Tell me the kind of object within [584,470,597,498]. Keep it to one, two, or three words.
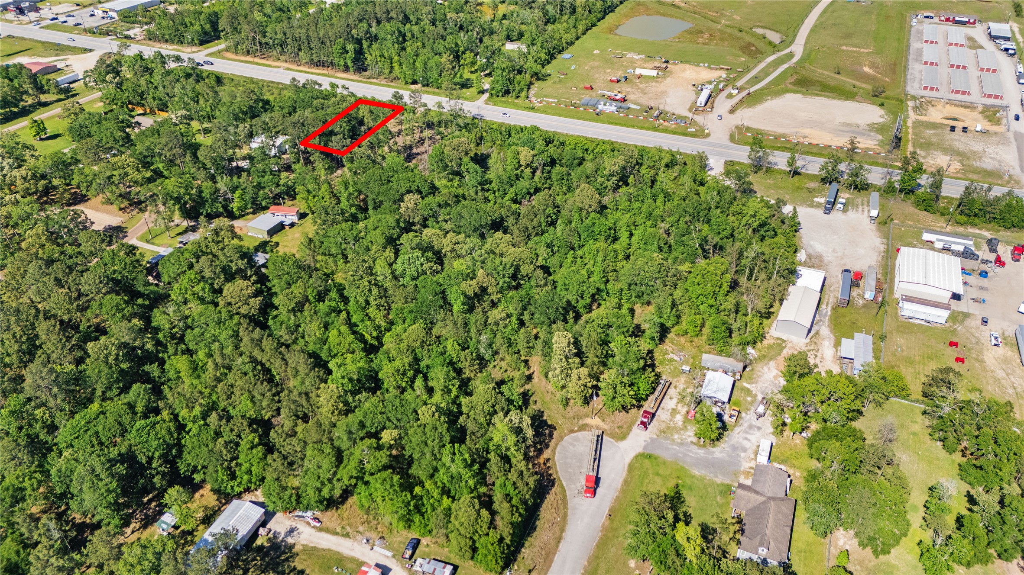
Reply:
vehicle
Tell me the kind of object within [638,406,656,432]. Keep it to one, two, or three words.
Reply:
vehicle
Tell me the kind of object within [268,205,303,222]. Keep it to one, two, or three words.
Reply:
shed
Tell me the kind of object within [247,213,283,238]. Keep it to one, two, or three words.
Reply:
building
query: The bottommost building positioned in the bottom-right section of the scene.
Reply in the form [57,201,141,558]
[731,461,795,574]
